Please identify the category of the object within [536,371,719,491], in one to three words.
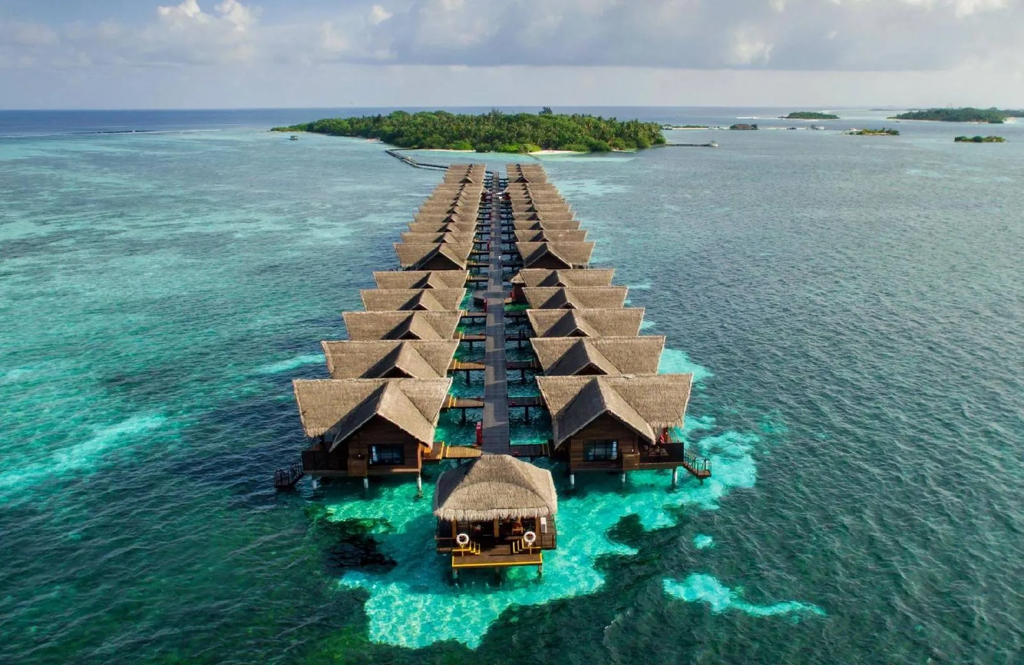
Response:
house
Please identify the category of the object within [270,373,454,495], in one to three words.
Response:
house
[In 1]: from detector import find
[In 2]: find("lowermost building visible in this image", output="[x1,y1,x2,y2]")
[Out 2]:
[435,453,557,587]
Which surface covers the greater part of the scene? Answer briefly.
water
